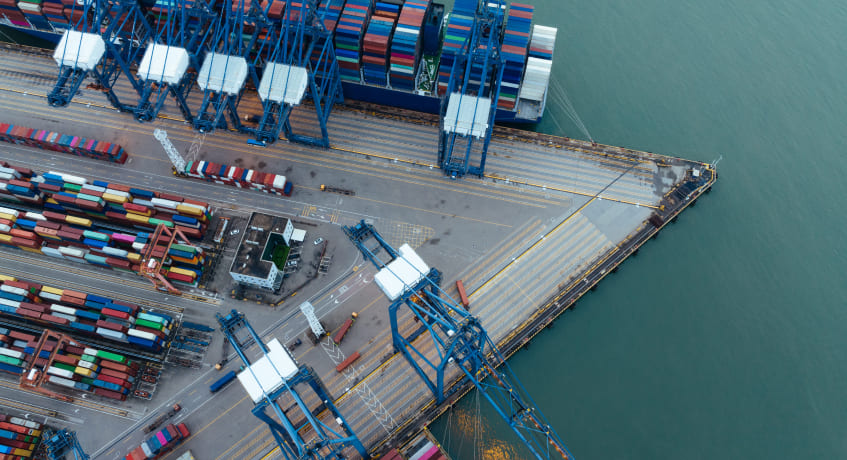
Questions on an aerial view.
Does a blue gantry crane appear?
Yes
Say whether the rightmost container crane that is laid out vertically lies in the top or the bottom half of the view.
top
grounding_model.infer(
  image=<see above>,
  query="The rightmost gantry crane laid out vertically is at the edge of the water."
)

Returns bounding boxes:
[434,0,504,179]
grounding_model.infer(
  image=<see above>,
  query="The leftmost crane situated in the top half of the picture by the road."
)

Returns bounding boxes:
[42,0,148,112]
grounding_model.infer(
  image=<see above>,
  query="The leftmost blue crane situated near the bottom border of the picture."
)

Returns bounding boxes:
[32,414,91,460]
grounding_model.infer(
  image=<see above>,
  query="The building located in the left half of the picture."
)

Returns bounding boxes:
[229,211,294,294]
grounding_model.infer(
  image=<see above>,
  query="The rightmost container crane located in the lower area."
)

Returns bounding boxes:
[337,210,583,460]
